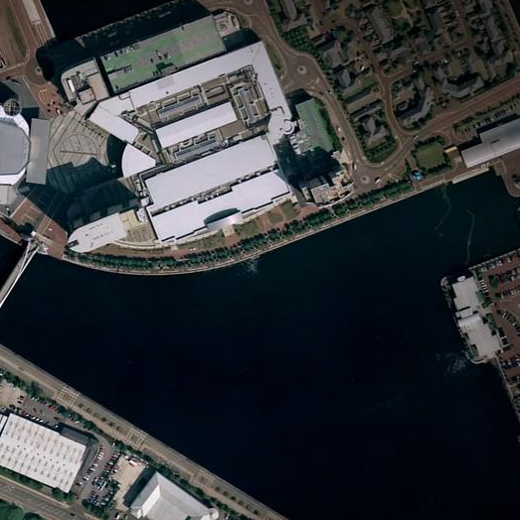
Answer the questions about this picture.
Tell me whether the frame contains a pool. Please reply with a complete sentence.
No, I can't see a single pool in this photo.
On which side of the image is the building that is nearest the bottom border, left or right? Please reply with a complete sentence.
The building that is nearest the bottom border is on the left side of the image.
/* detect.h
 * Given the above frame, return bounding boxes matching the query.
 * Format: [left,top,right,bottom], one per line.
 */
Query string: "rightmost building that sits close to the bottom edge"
[130,471,219,520]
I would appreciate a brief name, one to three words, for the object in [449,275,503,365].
building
